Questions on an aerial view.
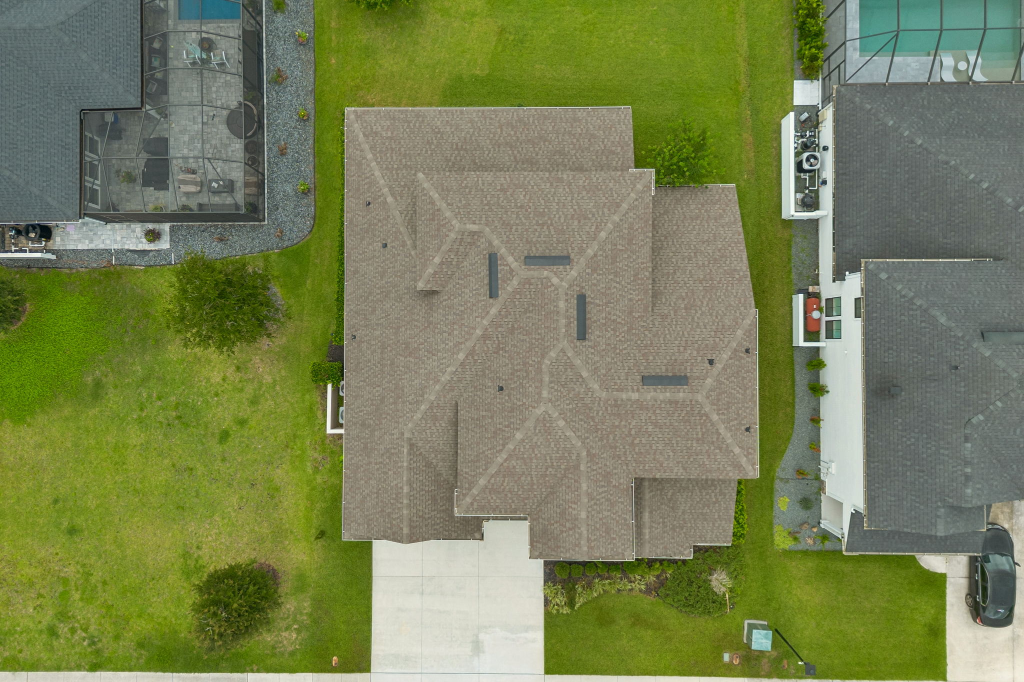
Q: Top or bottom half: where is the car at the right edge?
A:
bottom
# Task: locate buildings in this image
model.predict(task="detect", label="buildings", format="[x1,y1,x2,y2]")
[0,0,167,229]
[343,107,759,562]
[818,82,1024,556]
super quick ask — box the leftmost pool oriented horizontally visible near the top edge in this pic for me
[174,0,242,23]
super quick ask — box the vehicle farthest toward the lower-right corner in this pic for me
[968,524,1024,627]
